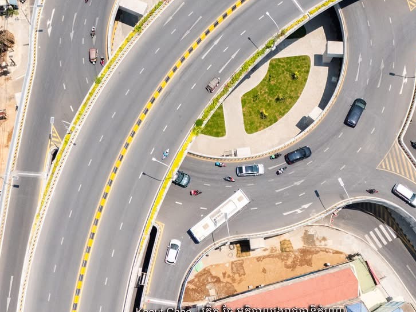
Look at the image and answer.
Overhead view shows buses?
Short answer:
Yes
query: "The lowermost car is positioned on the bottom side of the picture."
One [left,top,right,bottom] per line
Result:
[166,238,182,269]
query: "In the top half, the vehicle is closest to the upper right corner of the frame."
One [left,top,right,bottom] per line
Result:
[346,100,367,129]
